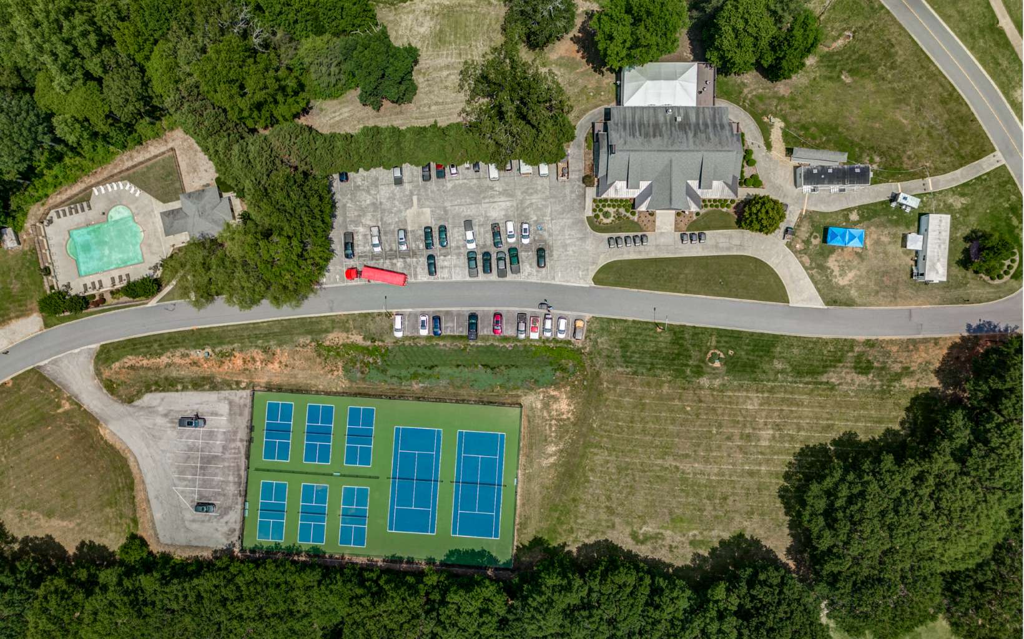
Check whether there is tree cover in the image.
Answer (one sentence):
Yes, there's tree cover in this view.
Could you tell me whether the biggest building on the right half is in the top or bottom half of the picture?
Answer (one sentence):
You can find the biggest building on the right half in the top half.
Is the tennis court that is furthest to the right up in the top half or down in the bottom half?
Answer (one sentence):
The tennis court that is furthest to the right sits in the bottom half of the picture.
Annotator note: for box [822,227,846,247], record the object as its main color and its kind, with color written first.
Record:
blue tent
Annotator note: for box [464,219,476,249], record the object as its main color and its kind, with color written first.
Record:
white vehicle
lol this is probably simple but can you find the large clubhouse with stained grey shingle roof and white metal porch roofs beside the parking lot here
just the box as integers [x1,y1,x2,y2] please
[592,106,742,211]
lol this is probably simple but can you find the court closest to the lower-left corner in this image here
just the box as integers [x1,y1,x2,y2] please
[257,481,288,542]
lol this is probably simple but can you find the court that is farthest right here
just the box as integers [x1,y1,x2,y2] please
[451,430,506,539]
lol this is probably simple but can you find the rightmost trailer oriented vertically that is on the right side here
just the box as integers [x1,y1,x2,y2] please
[916,214,950,284]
